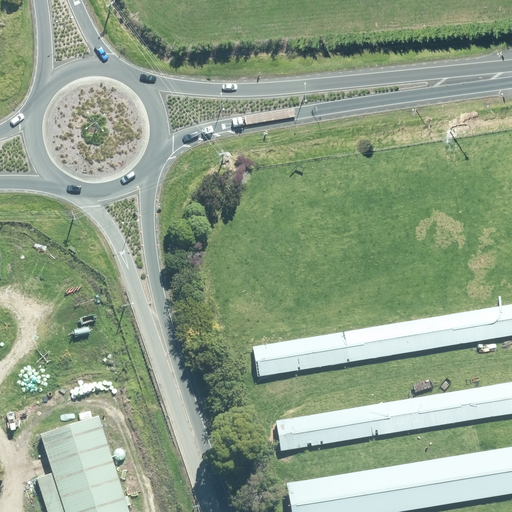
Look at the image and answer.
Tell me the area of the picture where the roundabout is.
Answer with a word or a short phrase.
top left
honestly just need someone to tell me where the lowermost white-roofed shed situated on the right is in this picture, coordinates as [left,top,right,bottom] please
[287,446,512,512]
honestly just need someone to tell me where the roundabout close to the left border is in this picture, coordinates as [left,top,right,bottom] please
[18,52,174,207]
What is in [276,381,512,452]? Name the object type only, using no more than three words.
shed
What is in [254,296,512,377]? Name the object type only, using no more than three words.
shed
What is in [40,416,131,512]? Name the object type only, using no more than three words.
barn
